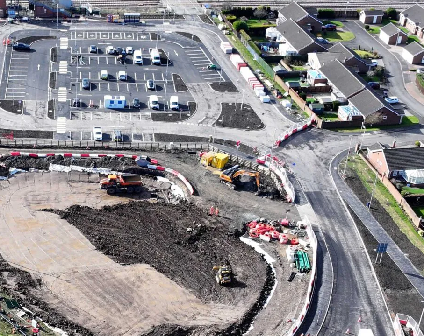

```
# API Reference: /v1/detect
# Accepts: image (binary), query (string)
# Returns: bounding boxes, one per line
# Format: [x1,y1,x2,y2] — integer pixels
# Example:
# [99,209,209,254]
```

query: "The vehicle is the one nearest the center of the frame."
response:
[215,163,257,189]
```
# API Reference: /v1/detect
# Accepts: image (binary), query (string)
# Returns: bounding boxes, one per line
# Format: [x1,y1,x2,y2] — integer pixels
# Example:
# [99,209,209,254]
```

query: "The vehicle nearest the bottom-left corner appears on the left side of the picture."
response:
[102,177,144,196]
